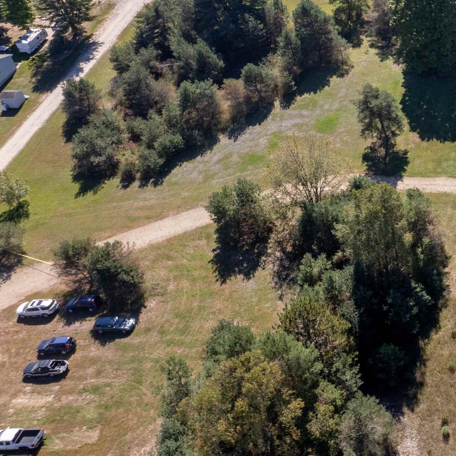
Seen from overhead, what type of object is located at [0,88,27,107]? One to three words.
shed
